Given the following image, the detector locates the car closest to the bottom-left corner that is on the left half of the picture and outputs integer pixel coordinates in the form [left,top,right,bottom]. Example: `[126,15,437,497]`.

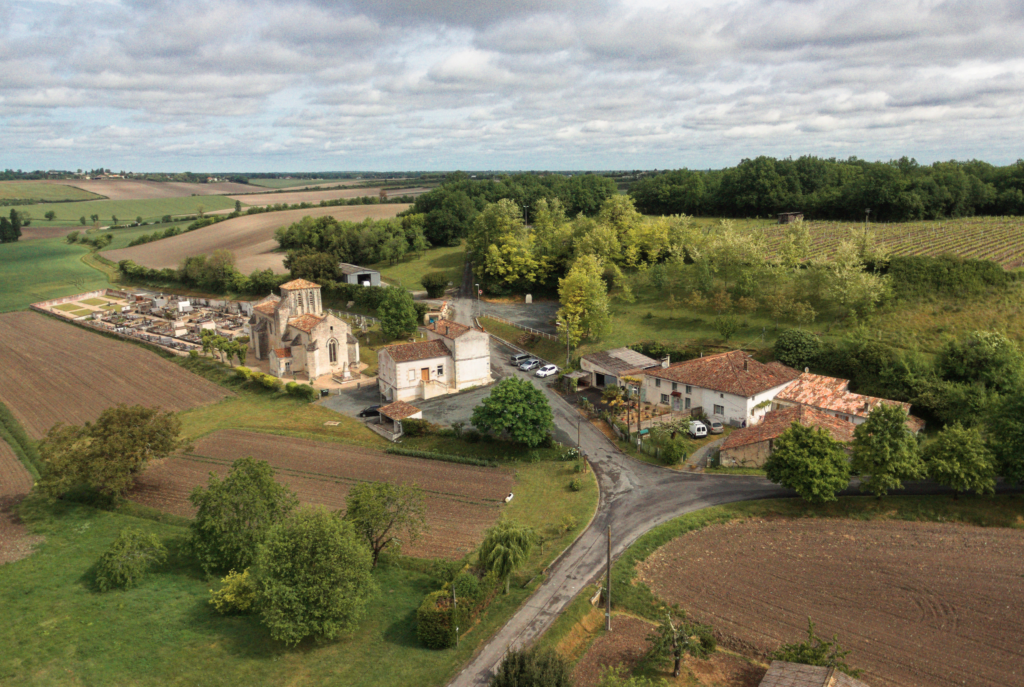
[355,405,382,418]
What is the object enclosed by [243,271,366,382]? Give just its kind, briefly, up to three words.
building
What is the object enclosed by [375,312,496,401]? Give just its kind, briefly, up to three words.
building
